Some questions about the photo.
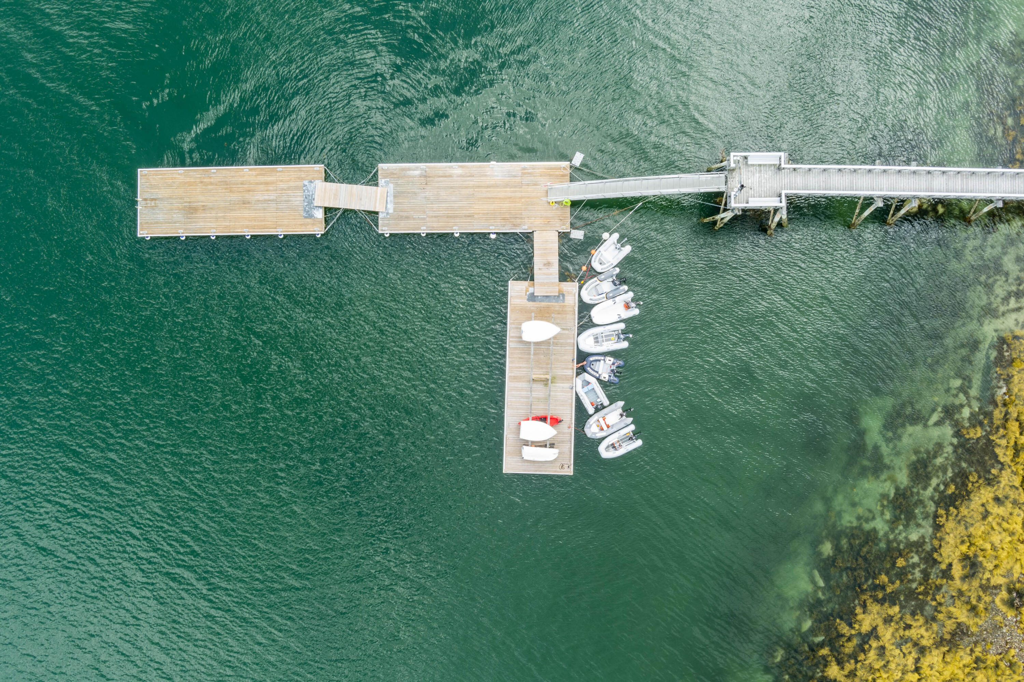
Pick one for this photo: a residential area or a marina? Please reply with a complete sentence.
The area seen from above is a marina.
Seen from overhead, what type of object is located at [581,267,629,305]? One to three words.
boat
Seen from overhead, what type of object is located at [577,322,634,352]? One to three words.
boat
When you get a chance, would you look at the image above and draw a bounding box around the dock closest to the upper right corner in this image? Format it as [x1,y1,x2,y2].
[698,152,1024,236]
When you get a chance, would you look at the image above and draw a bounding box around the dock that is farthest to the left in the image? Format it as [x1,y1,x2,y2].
[135,165,326,237]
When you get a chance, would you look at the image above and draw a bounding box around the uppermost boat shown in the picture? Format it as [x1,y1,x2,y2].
[590,231,632,272]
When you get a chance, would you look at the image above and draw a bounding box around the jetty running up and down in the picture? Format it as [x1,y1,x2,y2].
[503,281,578,475]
